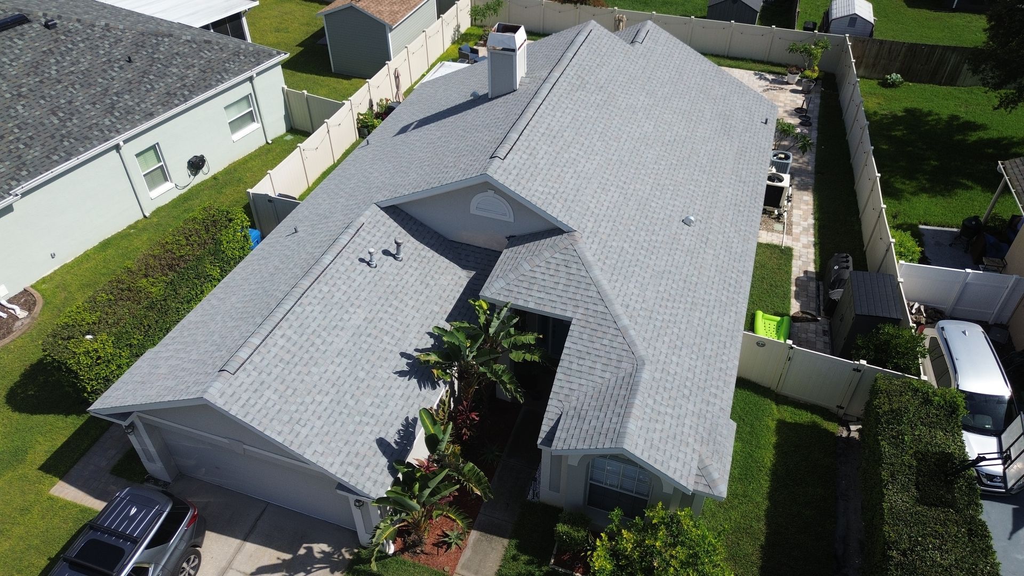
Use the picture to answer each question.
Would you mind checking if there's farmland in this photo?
No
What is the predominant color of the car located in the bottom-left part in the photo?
black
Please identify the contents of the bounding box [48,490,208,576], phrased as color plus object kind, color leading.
black car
